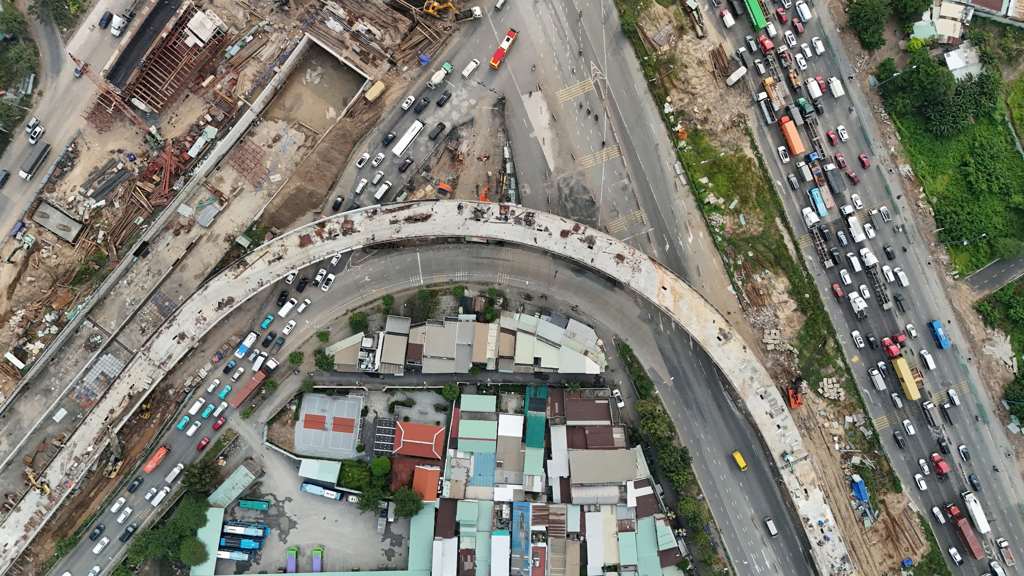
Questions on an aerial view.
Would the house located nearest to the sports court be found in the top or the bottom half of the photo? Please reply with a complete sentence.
You can find the house located nearest to the sports court in the bottom half.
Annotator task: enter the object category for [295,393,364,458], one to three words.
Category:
sports court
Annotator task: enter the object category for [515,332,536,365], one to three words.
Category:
house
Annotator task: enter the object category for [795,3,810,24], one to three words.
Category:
vehicle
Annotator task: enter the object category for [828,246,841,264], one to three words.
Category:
vehicle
